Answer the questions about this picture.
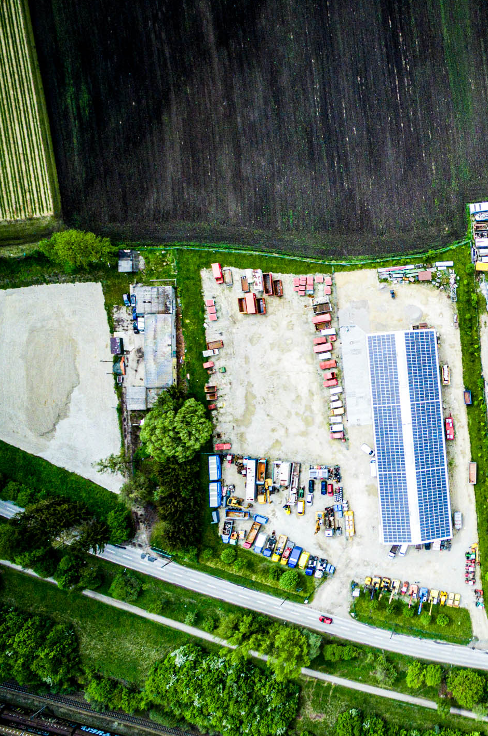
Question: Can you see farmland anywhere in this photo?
Yes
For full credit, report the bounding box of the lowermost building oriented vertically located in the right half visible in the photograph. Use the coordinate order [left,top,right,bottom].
[365,327,454,547]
